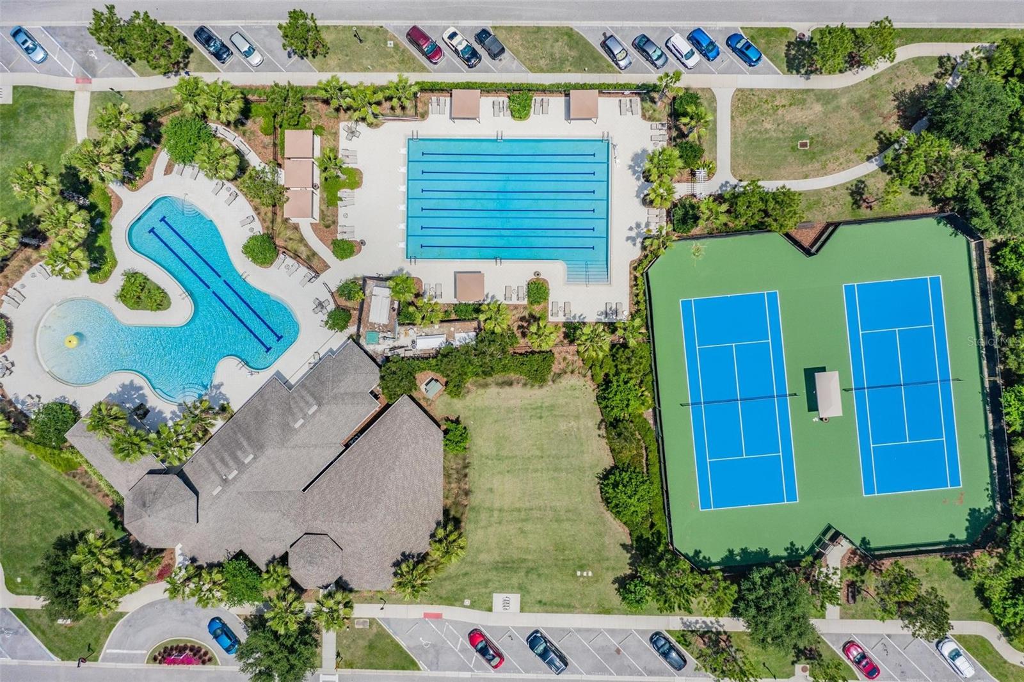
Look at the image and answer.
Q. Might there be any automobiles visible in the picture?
Yes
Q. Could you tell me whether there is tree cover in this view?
Yes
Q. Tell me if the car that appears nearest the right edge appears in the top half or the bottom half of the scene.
bottom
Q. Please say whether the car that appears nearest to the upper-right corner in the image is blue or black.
blue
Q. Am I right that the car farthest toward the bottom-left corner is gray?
No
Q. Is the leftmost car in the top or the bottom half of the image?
top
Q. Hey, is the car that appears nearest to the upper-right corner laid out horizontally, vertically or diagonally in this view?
diagonally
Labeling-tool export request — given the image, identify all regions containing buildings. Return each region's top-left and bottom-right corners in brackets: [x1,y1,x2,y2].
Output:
[70,339,444,590]
[369,285,392,323]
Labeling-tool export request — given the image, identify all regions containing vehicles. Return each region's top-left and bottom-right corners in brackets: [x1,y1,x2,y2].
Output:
[646,627,689,674]
[723,30,765,71]
[684,24,721,65]
[932,633,978,681]
[191,21,235,67]
[206,613,242,656]
[465,624,507,672]
[662,29,702,74]
[522,625,571,680]
[440,23,484,72]
[9,23,51,67]
[227,28,267,70]
[838,636,883,682]
[629,30,669,73]
[469,24,508,64]
[598,30,634,73]
[403,21,446,68]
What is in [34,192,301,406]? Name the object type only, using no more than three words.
swimming pool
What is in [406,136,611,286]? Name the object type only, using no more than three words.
swimming pool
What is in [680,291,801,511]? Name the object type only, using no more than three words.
tennis court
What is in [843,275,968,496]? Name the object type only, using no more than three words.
tennis court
